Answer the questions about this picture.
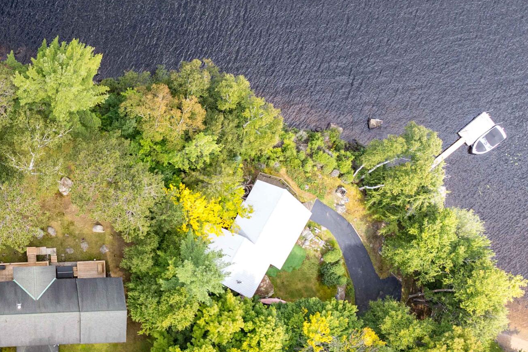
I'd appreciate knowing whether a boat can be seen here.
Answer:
Yes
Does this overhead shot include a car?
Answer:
No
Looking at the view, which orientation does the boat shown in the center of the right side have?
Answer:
diagonally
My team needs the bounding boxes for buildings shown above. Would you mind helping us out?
[200,172,312,298]
[0,247,126,352]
